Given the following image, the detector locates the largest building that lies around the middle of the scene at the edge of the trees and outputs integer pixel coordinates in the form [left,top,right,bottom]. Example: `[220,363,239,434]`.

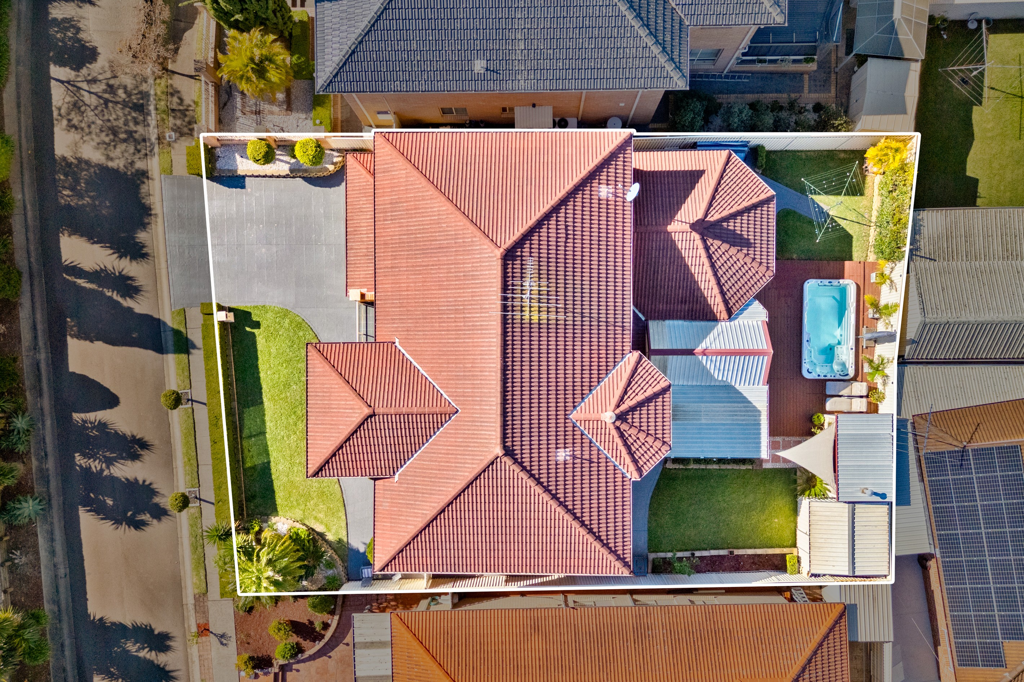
[303,128,778,578]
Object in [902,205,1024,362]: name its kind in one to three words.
building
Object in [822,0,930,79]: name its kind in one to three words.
gazebo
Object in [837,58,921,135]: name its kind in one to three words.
shed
